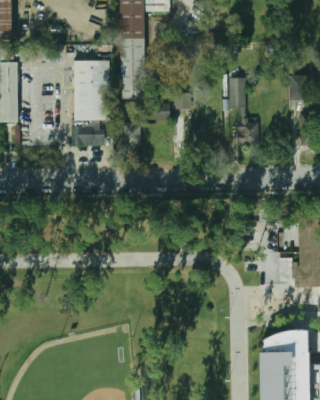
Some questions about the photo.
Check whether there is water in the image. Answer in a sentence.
No, there's no water in this view.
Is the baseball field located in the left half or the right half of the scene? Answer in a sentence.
The baseball field is on the left side of the image.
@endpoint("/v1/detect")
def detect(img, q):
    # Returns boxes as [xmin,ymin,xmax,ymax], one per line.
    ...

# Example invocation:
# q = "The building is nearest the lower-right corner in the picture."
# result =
[260,330,320,400]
